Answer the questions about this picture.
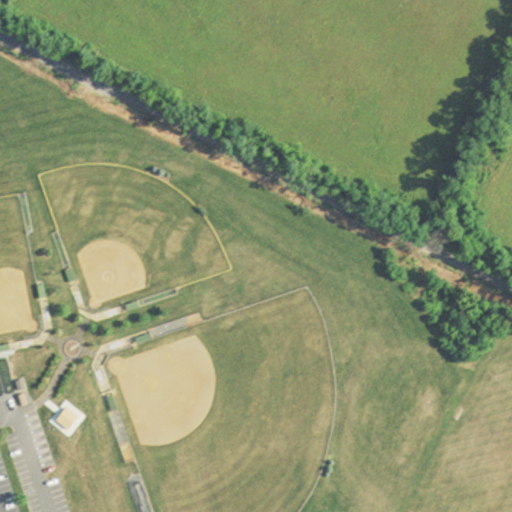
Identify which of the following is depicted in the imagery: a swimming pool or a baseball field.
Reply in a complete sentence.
The one in the frame is a baseball field.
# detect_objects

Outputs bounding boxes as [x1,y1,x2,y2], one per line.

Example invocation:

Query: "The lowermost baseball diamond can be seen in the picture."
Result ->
[106,288,335,512]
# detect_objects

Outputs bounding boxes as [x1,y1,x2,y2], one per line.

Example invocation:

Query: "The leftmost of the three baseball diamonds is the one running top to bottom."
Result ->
[0,194,43,345]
